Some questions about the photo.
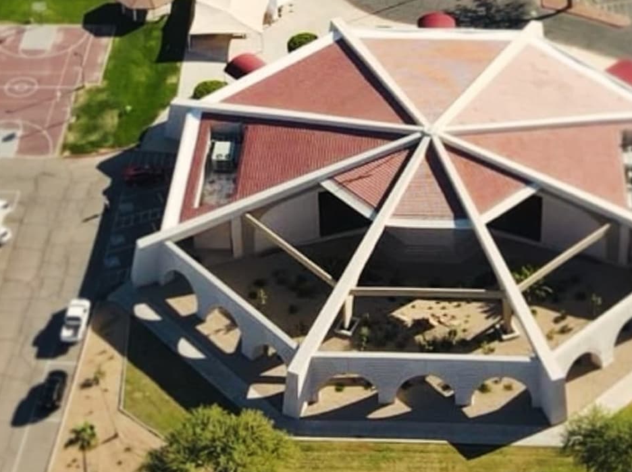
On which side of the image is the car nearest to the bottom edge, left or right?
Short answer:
left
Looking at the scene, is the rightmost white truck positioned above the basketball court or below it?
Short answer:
below it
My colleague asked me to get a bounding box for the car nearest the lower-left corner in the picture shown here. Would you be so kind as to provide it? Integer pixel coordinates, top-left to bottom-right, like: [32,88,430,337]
[35,370,71,416]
